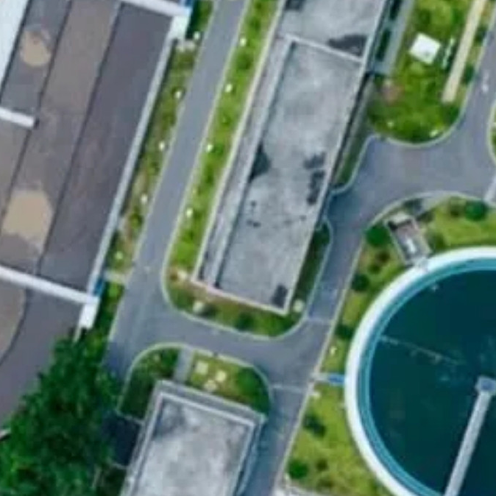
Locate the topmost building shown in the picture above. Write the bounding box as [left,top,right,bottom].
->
[192,0,390,314]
